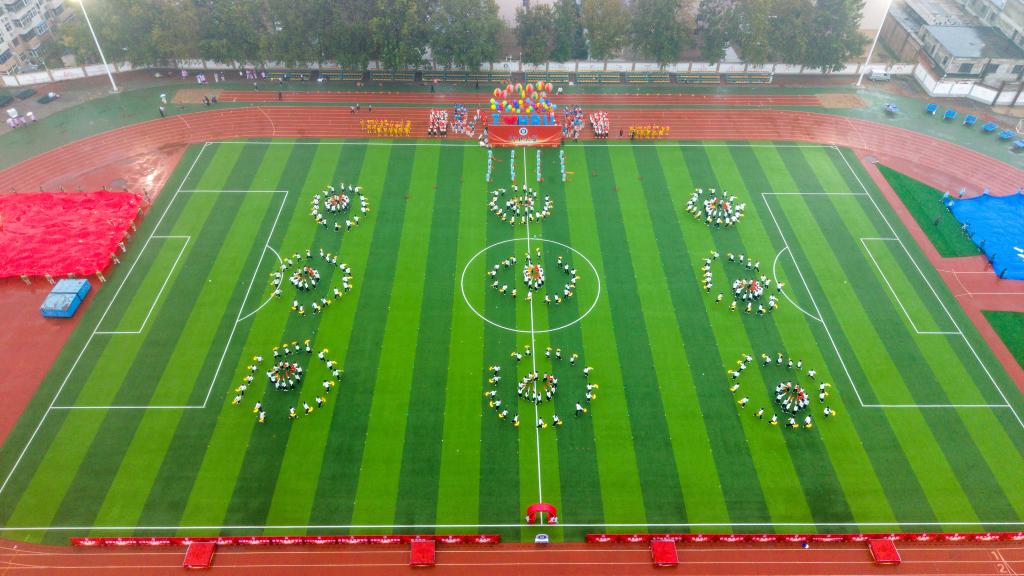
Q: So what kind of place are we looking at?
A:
sports ground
